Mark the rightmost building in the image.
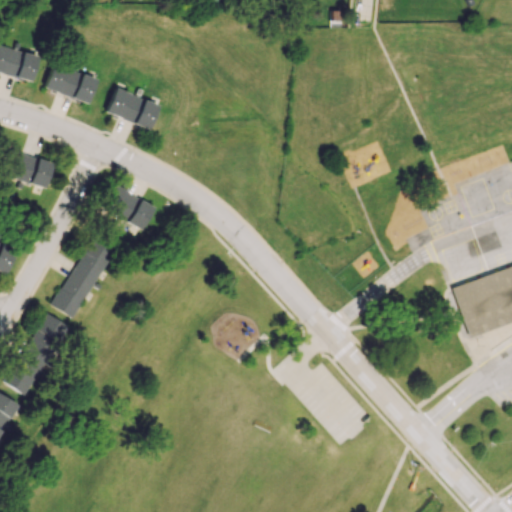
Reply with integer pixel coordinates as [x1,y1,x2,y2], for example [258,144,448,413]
[452,267,512,335]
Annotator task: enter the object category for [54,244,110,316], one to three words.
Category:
house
